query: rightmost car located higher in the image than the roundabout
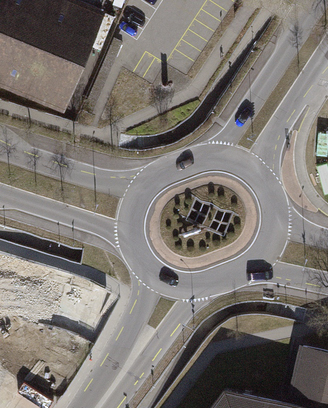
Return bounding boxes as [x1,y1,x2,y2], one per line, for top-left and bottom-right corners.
[234,106,252,128]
